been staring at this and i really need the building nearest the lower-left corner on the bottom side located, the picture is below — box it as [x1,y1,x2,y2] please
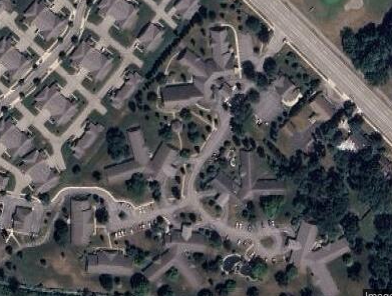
[12,206,34,235]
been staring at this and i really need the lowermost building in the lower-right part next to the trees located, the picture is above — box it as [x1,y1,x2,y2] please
[285,215,353,296]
